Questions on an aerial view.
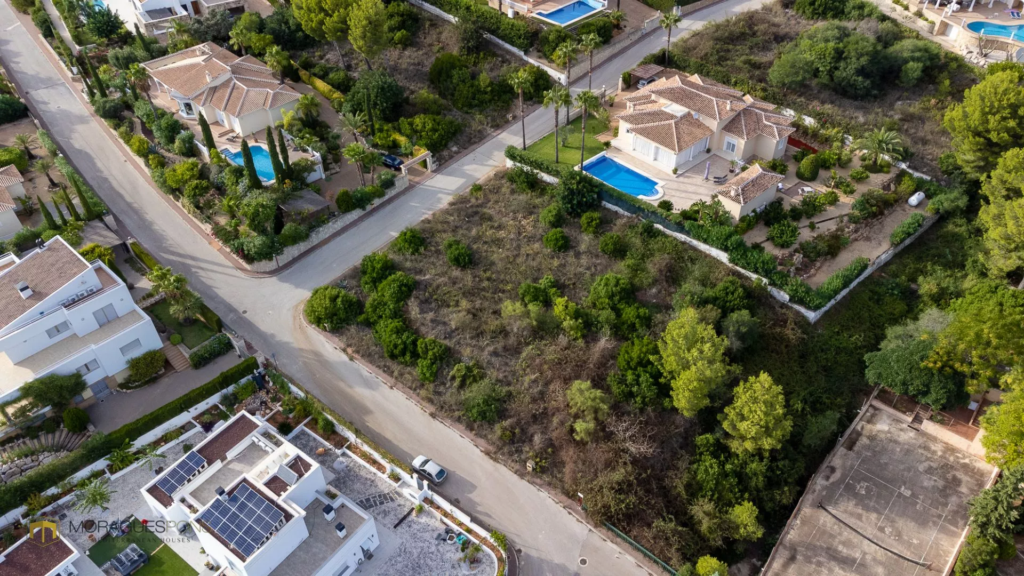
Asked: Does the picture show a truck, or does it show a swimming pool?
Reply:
swimming pool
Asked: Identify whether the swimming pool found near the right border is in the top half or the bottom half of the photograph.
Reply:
top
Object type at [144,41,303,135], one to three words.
house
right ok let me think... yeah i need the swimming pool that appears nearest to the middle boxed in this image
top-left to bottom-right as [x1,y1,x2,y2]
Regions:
[579,153,662,199]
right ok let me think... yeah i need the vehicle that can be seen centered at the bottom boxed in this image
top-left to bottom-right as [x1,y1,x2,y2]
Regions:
[409,453,450,487]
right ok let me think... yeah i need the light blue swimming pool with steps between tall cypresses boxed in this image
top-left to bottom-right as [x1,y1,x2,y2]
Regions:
[216,144,271,183]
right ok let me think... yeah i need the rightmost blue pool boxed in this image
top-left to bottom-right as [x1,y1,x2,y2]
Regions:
[965,20,1024,43]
